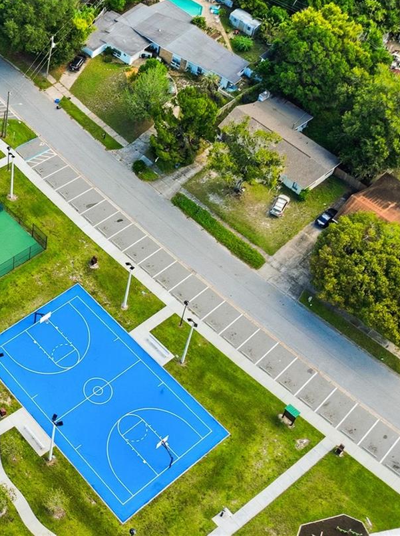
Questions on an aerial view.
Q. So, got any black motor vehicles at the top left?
Yes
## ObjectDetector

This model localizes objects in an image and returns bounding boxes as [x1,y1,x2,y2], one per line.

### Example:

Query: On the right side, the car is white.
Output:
[269,193,290,218]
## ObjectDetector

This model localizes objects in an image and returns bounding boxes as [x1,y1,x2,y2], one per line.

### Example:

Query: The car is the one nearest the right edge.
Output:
[315,204,340,229]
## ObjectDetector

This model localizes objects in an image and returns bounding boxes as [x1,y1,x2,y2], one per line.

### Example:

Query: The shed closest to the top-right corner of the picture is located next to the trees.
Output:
[230,2,266,35]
